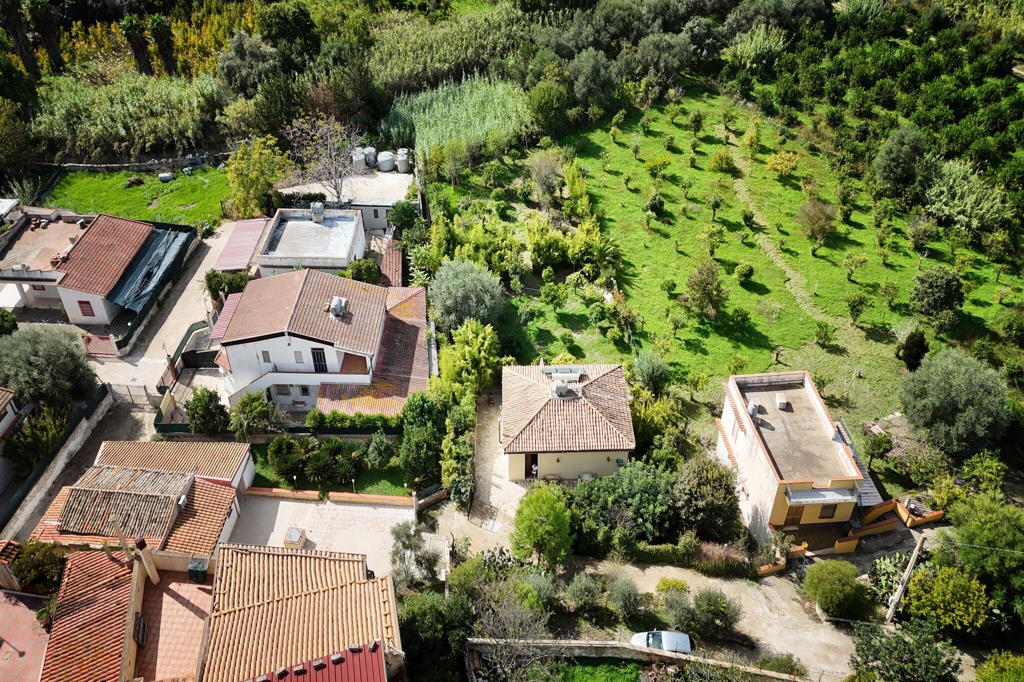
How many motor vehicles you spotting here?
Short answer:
1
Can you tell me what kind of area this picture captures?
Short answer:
residential area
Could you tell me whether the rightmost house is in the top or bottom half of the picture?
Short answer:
bottom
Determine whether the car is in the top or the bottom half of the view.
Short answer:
bottom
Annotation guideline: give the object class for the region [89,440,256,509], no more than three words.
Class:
building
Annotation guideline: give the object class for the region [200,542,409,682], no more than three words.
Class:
house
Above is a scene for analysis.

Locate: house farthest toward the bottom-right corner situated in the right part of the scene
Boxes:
[712,370,883,527]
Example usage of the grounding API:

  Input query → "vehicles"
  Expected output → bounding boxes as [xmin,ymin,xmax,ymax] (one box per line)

[635,632,693,654]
